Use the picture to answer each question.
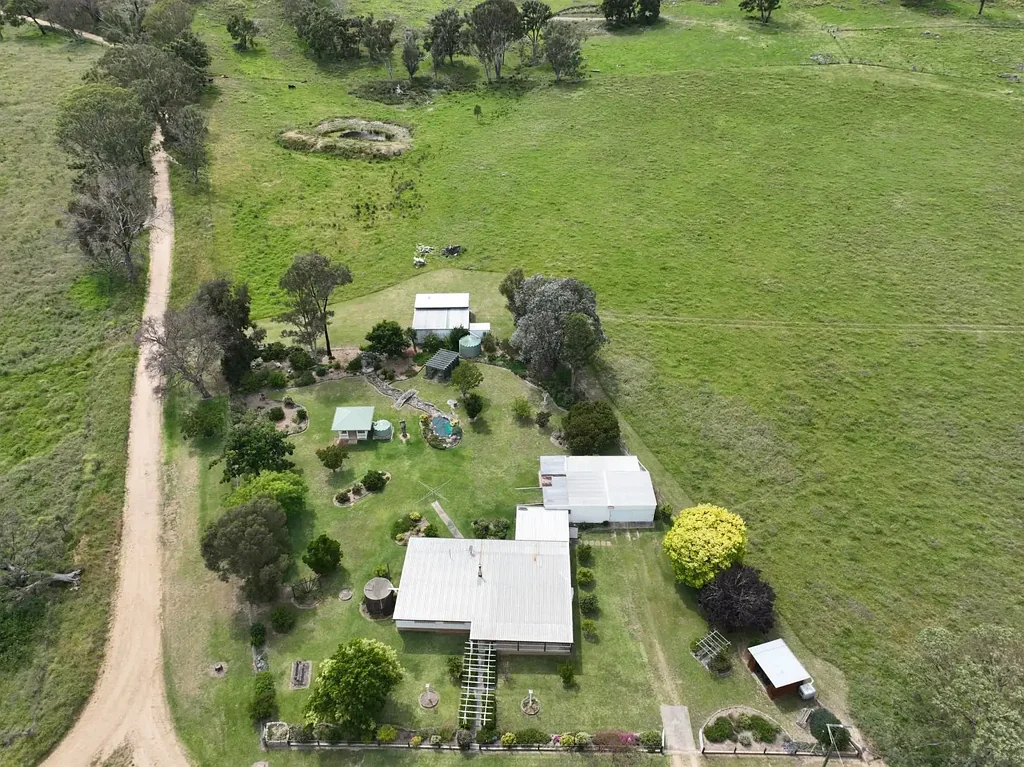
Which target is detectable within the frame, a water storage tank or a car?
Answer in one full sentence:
The image shows a water storage tank.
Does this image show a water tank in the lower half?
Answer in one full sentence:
Yes, there is a water tank in the lower half.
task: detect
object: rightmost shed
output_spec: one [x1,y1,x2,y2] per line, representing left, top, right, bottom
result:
[746,638,810,701]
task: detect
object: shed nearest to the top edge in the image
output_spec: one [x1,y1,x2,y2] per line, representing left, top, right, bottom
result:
[411,292,489,343]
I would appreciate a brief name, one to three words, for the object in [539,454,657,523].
building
